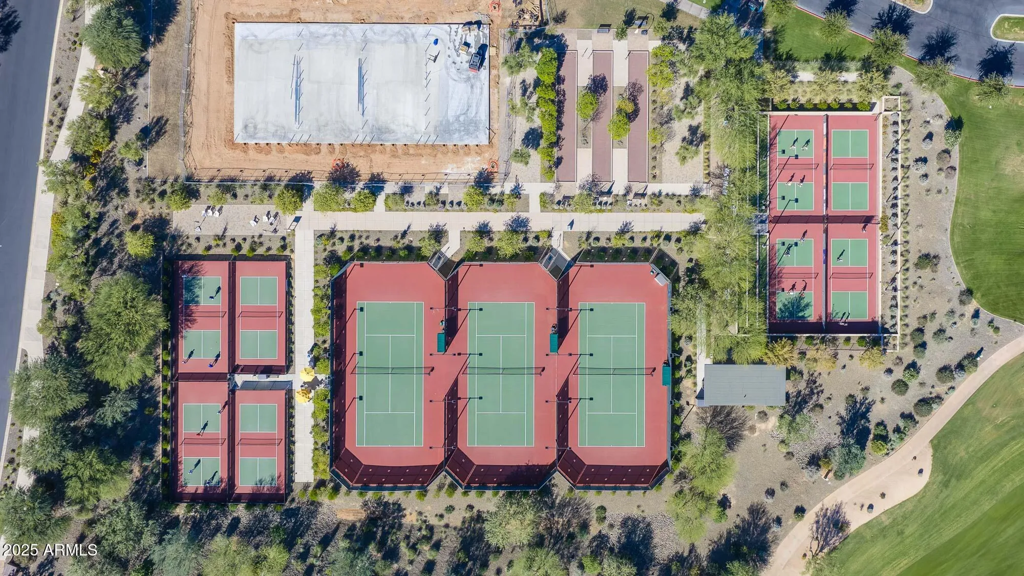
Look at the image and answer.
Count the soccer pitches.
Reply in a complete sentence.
Not a single soccer pitch can be seen.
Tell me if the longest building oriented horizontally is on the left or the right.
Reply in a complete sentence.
You can find the longest building oriented horizontally on the right side of the picture.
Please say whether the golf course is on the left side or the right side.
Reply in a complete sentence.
The golf course appears in the right half of the scene.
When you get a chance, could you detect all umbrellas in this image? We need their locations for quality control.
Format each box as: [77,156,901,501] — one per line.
[298,387,311,402]
[300,367,317,383]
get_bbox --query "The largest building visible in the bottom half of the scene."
[690,361,786,407]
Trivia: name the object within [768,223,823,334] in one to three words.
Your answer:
sports court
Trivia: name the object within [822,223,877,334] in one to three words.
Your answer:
sports court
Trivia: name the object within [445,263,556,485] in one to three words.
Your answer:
tennis court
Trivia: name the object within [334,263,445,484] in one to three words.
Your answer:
tennis court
